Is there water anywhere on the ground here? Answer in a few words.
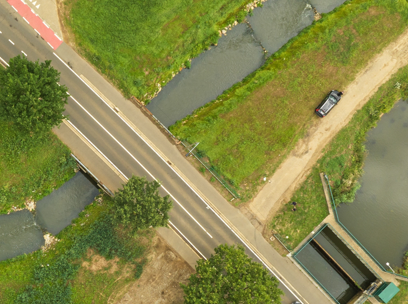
Yes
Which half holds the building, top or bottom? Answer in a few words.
bottom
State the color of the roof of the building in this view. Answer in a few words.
green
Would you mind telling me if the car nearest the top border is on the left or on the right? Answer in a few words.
right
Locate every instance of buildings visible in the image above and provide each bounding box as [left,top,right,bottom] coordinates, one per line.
[371,282,400,303]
